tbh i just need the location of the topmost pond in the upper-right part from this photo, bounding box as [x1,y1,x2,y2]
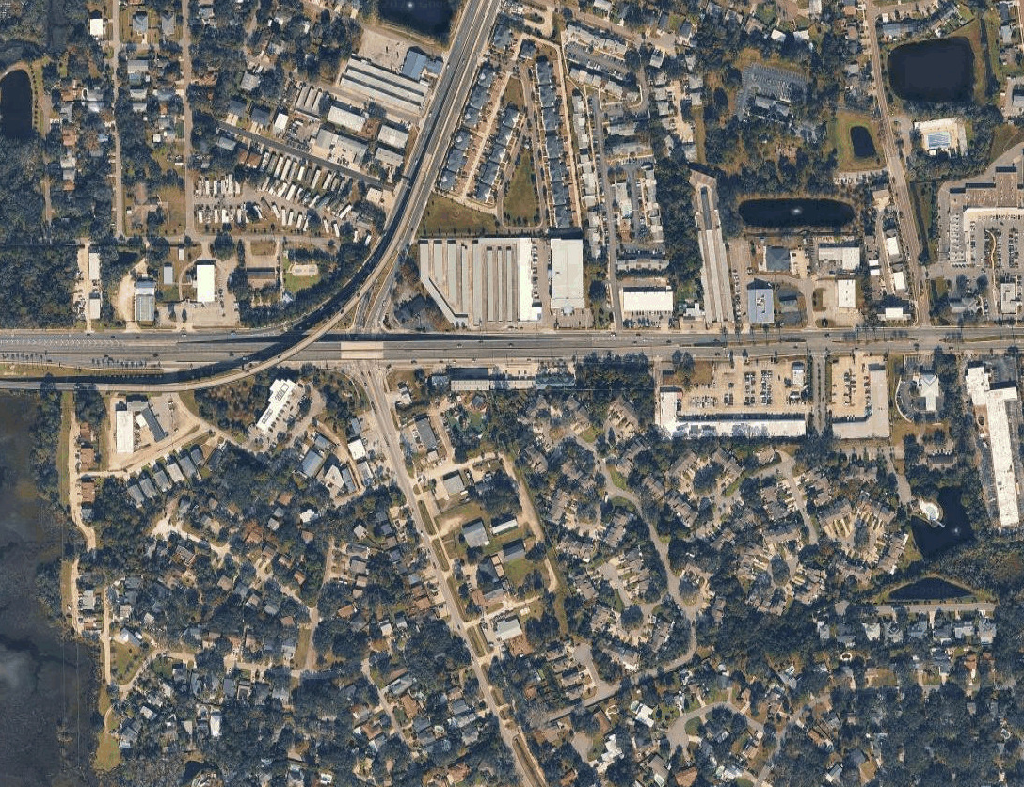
[888,35,974,103]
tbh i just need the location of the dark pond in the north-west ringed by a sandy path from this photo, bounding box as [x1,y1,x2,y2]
[0,71,32,143]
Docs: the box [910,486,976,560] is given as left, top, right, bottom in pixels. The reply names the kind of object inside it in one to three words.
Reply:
pond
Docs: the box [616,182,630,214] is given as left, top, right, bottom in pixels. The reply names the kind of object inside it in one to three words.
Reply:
building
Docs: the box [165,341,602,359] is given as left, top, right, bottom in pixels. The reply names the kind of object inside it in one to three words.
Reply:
overpass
